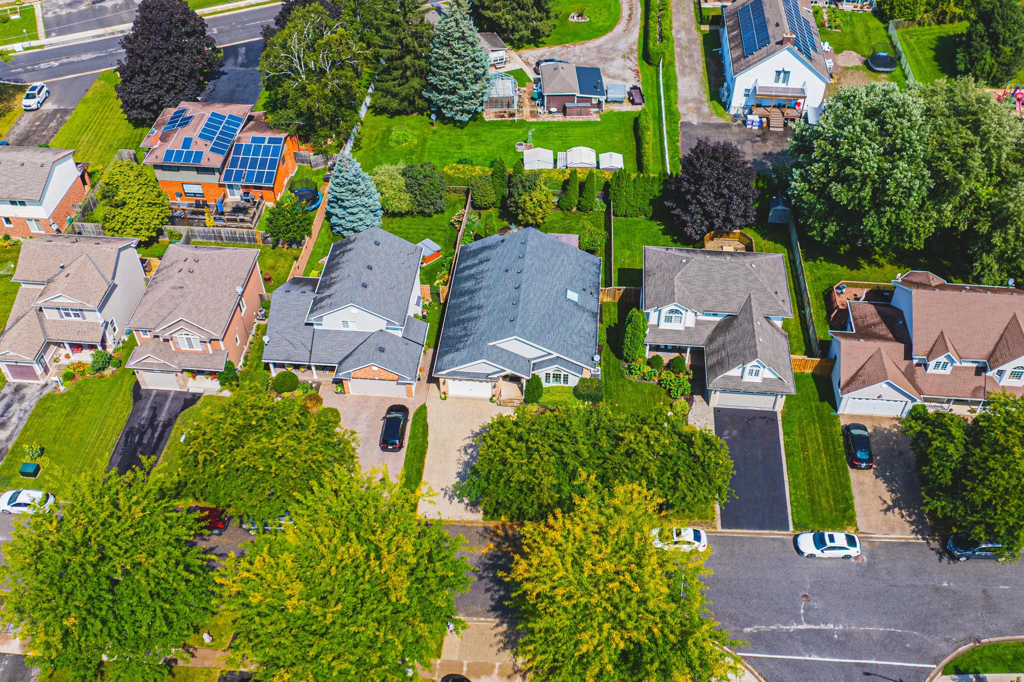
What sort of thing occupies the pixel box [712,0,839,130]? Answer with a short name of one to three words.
house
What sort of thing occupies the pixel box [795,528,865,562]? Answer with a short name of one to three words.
car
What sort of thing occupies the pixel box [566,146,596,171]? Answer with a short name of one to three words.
shed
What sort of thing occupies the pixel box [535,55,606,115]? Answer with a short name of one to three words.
building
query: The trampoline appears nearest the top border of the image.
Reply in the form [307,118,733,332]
[865,44,898,74]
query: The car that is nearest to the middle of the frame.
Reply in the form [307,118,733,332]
[379,402,409,448]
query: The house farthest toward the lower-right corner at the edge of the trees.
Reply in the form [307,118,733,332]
[824,267,1024,422]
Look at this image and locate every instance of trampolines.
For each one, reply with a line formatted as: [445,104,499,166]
[865,44,898,74]
[287,180,324,211]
